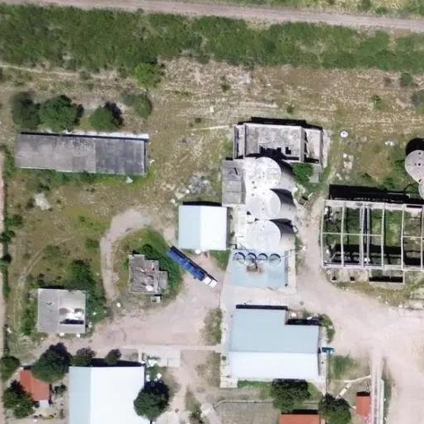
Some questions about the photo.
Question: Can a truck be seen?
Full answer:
Yes, a truck can be made out from above.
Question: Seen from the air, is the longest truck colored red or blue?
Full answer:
The color of the longest truck is blue.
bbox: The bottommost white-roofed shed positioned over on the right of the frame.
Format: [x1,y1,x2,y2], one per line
[227,326,326,382]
